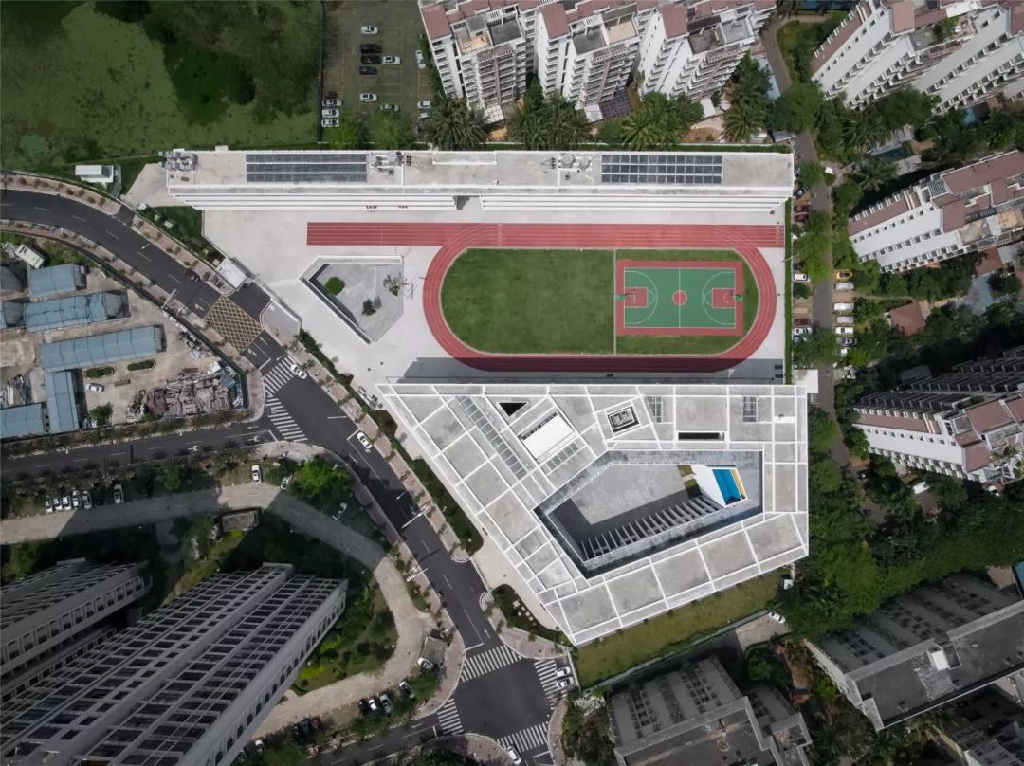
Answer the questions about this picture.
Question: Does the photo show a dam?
No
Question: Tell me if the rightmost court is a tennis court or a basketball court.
basketball court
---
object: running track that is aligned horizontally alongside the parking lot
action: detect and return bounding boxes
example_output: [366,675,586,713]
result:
[307,222,784,373]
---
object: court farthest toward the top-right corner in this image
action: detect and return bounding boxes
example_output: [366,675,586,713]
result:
[616,261,742,335]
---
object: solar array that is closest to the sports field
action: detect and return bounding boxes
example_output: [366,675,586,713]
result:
[601,154,722,182]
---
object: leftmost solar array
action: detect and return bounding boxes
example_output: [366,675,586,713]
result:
[246,154,368,182]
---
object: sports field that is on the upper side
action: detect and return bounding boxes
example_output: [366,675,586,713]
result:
[442,248,759,354]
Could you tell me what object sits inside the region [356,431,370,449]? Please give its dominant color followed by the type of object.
white car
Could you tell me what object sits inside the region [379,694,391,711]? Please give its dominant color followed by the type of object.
gray vehicle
